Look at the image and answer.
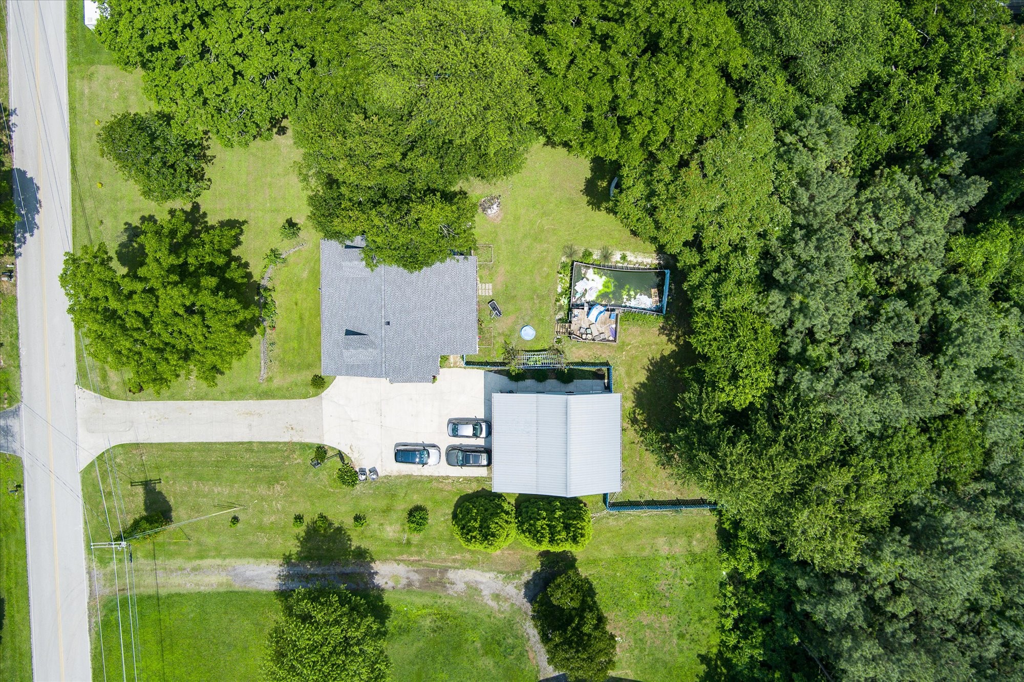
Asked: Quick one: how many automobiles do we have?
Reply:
3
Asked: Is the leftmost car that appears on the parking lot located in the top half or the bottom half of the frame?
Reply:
bottom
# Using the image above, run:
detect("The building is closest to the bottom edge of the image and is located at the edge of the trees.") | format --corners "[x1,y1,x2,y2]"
[486,393,623,499]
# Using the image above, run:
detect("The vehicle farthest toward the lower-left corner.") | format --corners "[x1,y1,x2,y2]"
[395,444,441,466]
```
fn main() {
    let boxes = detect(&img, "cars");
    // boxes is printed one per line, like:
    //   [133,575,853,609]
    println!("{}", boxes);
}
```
[447,446,490,468]
[395,444,441,466]
[448,419,490,439]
